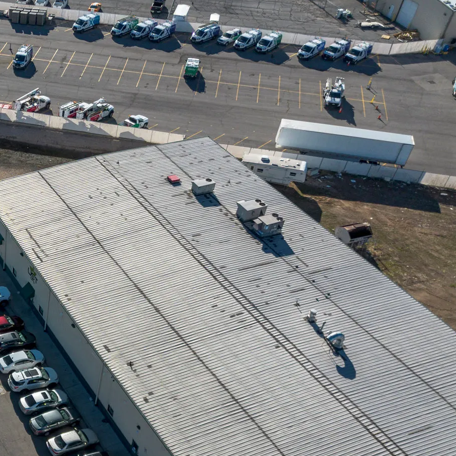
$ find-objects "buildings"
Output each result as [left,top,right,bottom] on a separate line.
[367,0,456,38]
[0,139,456,456]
